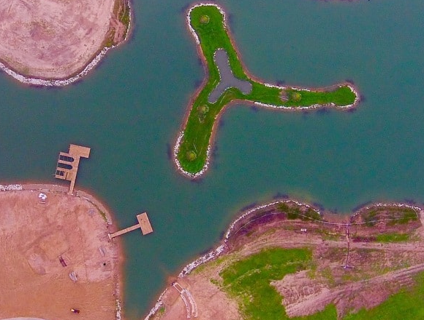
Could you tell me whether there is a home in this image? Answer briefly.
No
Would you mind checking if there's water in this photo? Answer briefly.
Yes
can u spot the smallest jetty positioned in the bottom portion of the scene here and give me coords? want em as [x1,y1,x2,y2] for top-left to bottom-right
[108,213,150,239]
